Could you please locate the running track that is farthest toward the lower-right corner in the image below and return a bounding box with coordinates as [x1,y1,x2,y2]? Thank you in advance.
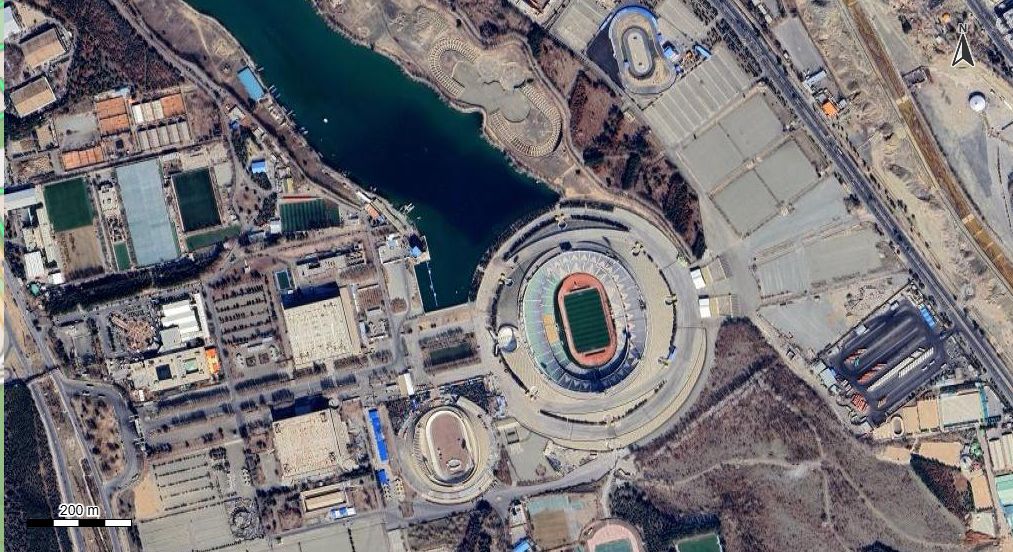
[573,514,656,552]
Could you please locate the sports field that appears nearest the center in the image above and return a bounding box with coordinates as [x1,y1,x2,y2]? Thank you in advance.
[564,288,609,352]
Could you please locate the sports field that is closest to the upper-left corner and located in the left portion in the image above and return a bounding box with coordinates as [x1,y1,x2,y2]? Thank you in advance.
[45,178,93,231]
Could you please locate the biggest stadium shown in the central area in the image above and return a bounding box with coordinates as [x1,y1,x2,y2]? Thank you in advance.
[515,245,655,397]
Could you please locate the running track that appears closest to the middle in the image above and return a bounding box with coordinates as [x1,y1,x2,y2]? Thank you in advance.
[557,273,618,366]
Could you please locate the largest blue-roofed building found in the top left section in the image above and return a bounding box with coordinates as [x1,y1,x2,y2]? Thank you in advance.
[238,67,264,100]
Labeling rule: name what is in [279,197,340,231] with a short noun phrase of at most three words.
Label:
sports field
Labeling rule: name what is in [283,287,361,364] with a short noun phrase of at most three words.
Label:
building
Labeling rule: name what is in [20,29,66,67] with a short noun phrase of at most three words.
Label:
building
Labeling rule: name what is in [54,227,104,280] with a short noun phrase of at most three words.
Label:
sports field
